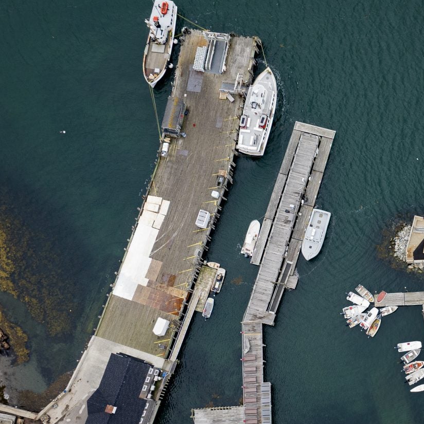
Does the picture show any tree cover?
No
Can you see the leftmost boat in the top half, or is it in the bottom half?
top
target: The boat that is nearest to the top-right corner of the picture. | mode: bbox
[238,67,276,158]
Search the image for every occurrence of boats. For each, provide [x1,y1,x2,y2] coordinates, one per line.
[303,207,330,259]
[355,284,374,303]
[392,340,422,352]
[367,315,382,340]
[238,67,276,158]
[212,269,226,297]
[378,290,387,303]
[139,0,176,86]
[345,291,369,309]
[339,305,366,318]
[242,220,259,261]
[202,297,214,321]
[359,307,379,331]
[399,350,420,364]
[411,384,424,392]
[402,368,424,385]
[208,261,220,269]
[344,313,366,328]
[400,361,424,374]
[380,306,397,317]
